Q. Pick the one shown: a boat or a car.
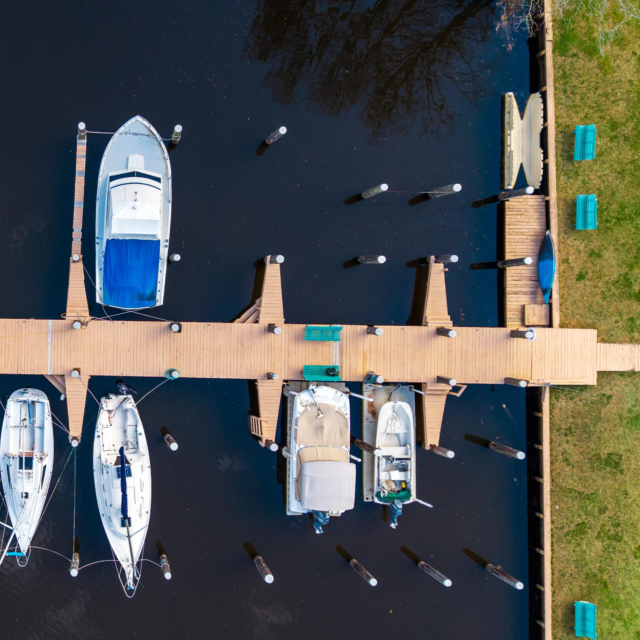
boat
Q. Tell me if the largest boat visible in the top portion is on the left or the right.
left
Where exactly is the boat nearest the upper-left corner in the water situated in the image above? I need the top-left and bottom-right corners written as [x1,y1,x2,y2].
[95,114,173,309]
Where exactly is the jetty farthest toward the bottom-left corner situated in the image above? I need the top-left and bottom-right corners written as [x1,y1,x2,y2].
[42,375,88,439]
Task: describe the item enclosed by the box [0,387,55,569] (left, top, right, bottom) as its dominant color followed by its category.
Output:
white boat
